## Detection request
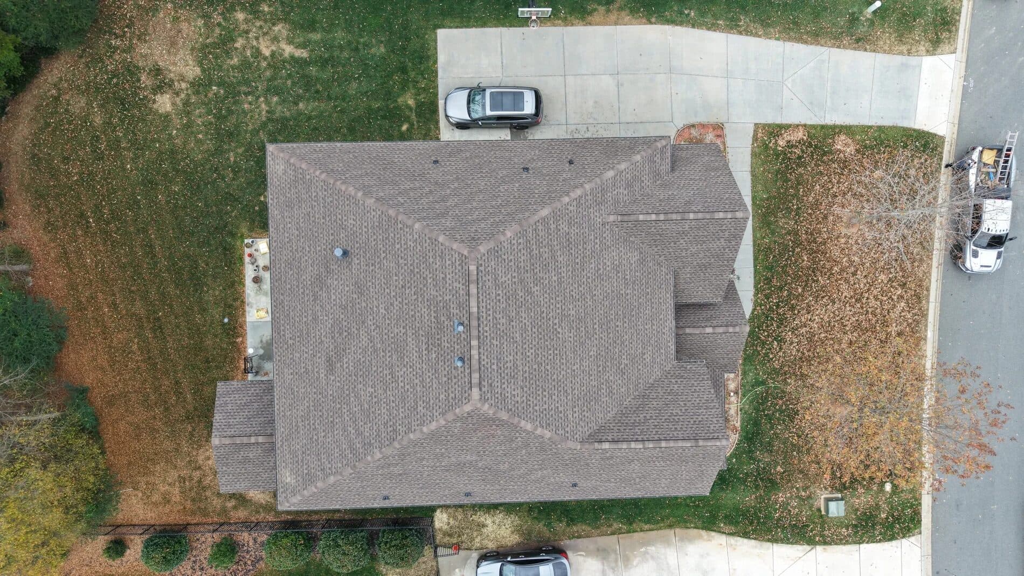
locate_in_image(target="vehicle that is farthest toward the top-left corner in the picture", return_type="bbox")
[445,81,543,130]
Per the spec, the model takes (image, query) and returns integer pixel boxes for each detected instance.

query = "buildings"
[211,134,750,512]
